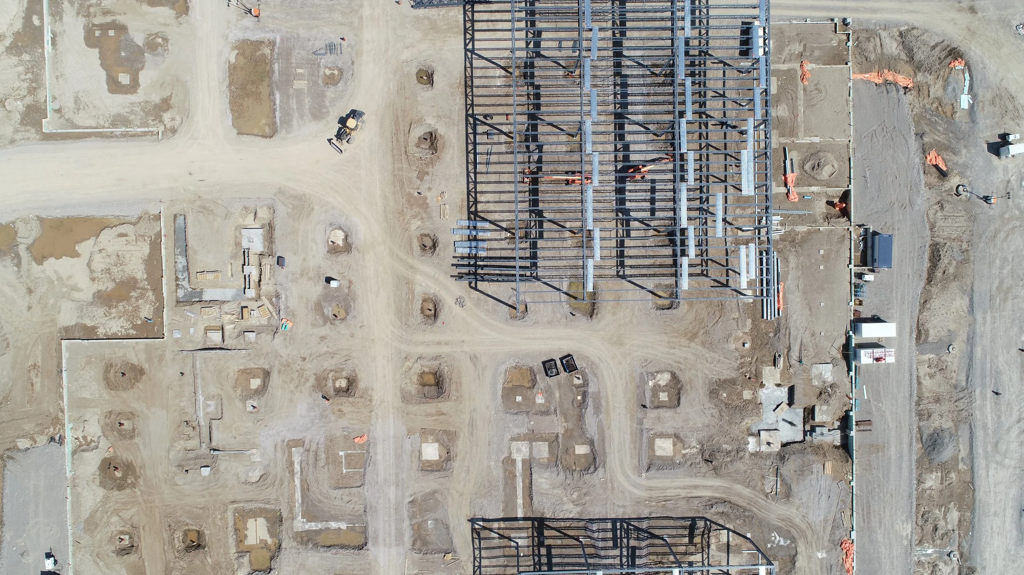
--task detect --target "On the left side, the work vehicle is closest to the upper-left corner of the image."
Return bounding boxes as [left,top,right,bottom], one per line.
[331,109,365,152]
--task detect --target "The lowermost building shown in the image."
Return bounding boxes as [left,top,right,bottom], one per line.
[520,539,776,575]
